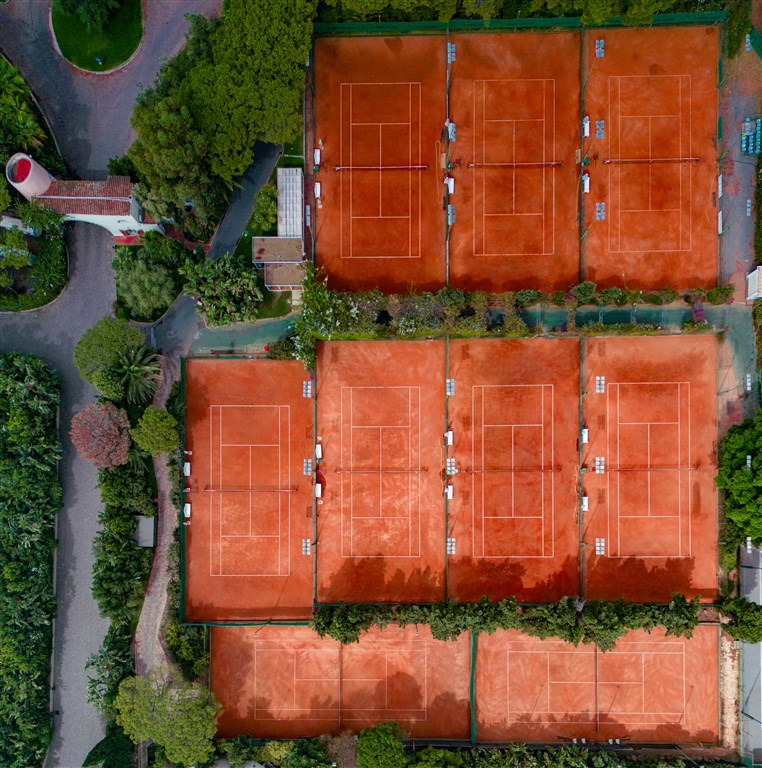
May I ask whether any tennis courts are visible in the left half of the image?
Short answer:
Yes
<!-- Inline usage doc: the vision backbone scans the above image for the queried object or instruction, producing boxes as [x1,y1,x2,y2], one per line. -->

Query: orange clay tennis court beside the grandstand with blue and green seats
[585,26,719,290]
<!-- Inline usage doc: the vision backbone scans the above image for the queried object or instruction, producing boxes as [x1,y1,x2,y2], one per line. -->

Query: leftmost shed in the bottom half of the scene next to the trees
[134,516,159,547]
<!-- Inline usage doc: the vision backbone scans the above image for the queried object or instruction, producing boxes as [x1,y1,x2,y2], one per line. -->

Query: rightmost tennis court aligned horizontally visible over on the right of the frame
[475,624,719,742]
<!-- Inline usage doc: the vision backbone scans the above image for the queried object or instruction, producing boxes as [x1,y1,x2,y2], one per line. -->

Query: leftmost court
[186,360,314,620]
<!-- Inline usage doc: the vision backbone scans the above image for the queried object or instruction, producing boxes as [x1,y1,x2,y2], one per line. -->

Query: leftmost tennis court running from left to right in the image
[211,624,471,741]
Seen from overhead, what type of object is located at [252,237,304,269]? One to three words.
building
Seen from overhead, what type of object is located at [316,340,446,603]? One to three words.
tennis court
